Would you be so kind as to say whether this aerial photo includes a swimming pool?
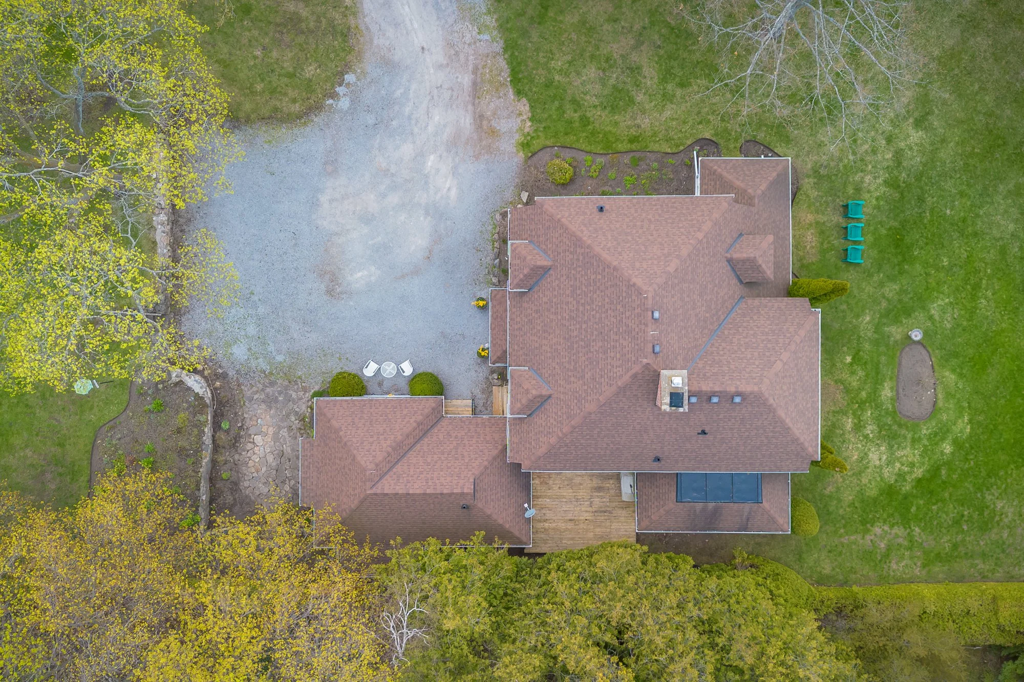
No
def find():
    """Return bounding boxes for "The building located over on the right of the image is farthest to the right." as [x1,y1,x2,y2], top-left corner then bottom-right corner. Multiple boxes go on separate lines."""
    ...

[489,151,823,533]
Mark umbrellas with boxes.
[78,378,97,395]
